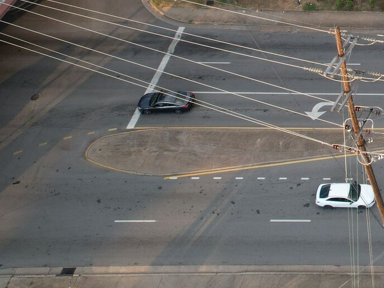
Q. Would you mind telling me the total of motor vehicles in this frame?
2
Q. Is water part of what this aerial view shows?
No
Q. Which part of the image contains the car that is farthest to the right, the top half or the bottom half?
bottom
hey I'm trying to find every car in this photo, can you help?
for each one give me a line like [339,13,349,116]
[135,89,194,114]
[312,184,375,213]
